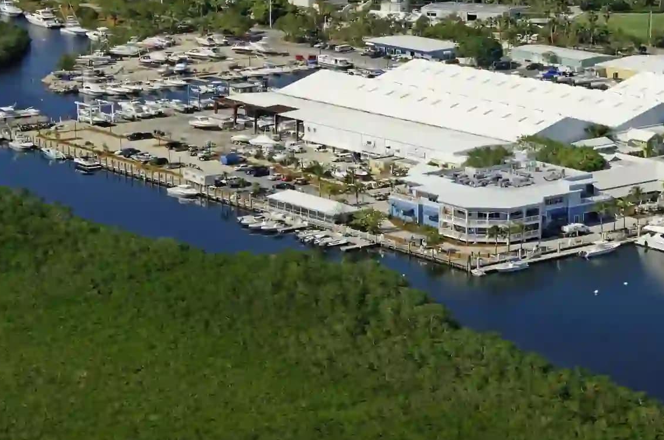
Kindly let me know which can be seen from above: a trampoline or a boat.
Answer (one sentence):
The one in the frame is a boat.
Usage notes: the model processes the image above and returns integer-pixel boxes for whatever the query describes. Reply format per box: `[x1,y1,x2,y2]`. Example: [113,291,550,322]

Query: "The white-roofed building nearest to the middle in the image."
[256,187,363,228]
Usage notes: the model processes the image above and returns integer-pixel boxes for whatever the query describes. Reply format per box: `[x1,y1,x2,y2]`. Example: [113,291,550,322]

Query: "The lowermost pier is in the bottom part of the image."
[473,252,599,280]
